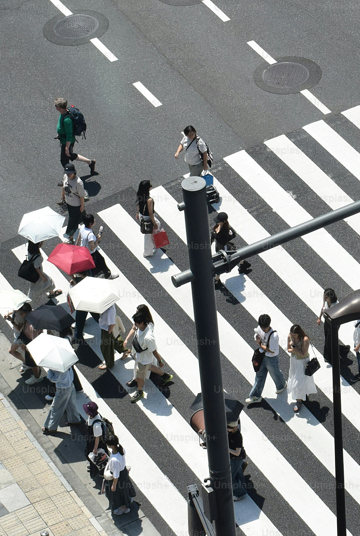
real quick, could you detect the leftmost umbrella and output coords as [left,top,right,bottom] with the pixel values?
[0,284,34,326]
